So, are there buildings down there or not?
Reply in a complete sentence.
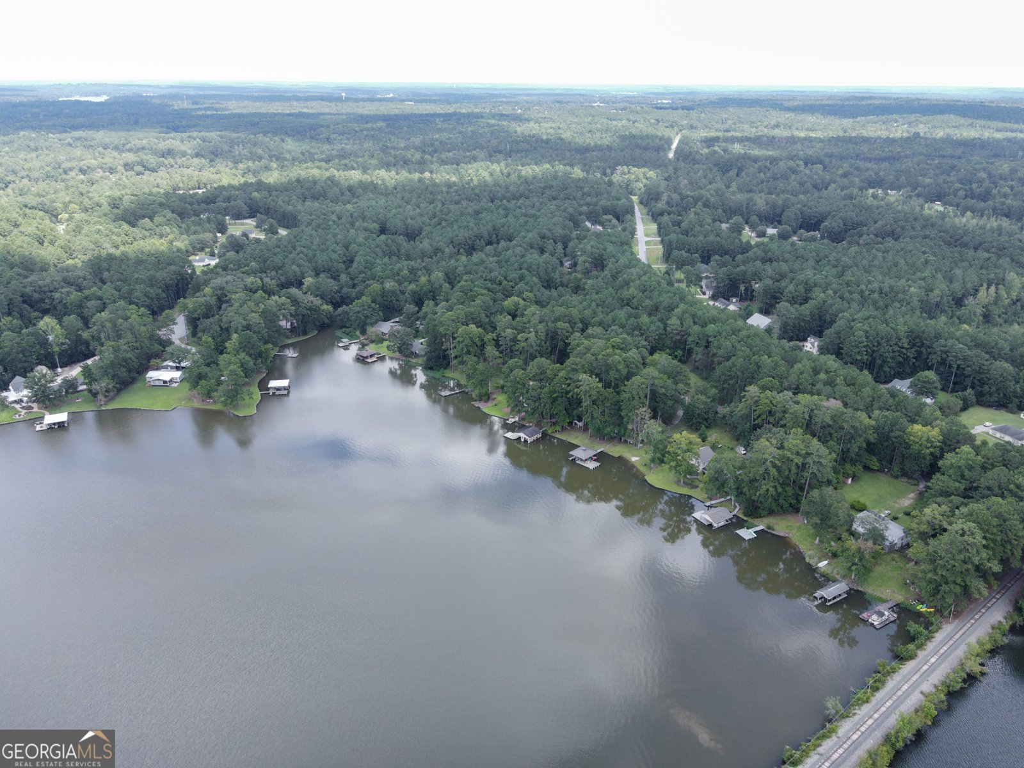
Yes, the picture does show a building.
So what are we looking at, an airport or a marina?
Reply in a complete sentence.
The area seen from above is a marina.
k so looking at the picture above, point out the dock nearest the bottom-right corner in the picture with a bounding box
[859,599,900,631]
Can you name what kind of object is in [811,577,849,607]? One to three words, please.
building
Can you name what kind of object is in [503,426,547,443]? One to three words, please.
building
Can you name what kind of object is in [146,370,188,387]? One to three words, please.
house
